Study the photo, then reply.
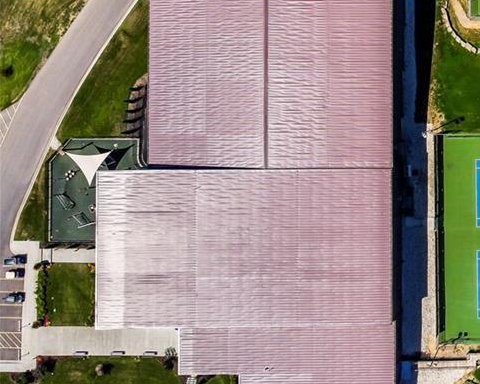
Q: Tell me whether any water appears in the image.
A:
No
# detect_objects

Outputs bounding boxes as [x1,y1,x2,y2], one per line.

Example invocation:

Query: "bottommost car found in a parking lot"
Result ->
[0,293,24,306]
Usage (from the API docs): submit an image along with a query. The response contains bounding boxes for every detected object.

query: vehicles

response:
[0,293,24,306]
[1,255,25,267]
[1,268,25,280]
